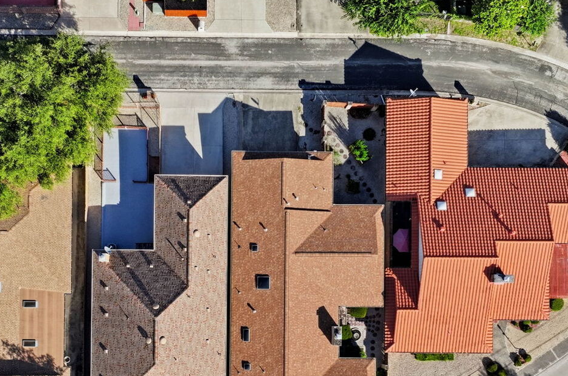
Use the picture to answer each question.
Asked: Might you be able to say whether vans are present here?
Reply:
No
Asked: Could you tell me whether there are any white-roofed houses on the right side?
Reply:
No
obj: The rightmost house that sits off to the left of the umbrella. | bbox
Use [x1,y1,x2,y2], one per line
[229,150,386,376]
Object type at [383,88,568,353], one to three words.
house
